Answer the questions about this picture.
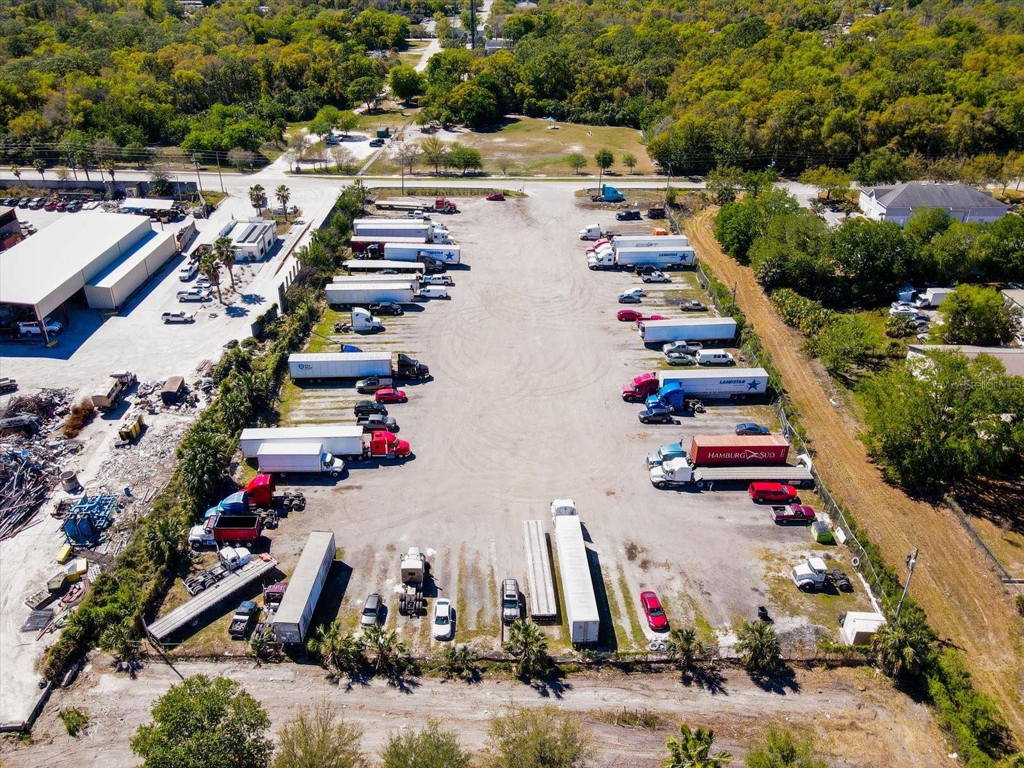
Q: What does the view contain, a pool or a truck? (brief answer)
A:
truck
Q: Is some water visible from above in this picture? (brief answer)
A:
No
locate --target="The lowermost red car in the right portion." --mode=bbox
[641,585,668,627]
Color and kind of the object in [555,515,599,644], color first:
white trailer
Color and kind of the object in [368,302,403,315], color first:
black vehicle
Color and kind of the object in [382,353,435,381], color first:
black truck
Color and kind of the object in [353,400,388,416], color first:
black car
